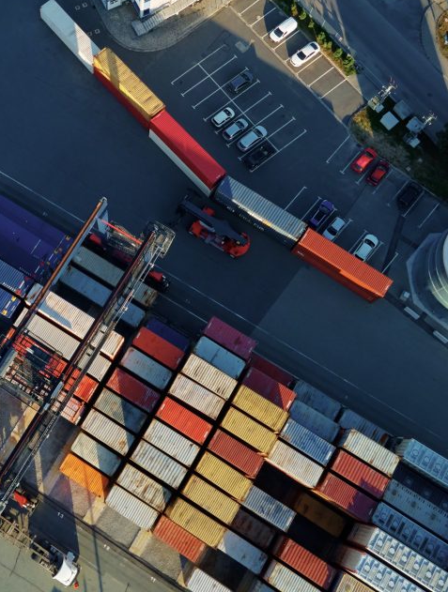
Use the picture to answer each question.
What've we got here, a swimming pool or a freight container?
freight container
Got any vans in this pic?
Yes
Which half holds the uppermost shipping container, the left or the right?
left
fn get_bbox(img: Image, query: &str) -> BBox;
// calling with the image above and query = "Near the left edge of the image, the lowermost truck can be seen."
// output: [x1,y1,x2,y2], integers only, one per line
[0,514,88,591]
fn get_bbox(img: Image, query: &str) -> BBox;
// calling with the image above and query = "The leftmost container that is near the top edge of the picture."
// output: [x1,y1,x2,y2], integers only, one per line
[36,0,99,72]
